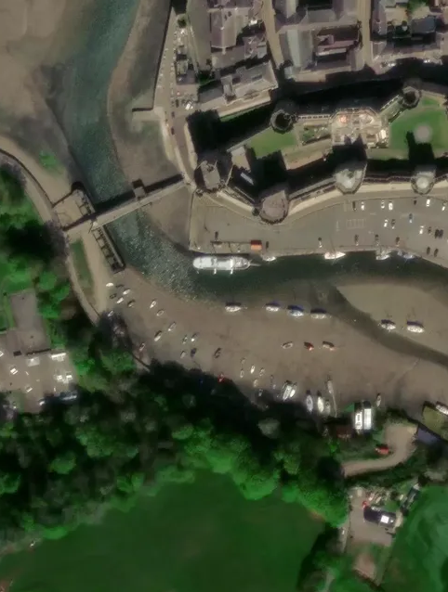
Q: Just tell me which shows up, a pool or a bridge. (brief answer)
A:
bridge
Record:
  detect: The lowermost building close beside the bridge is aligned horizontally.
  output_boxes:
[196,81,448,220]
